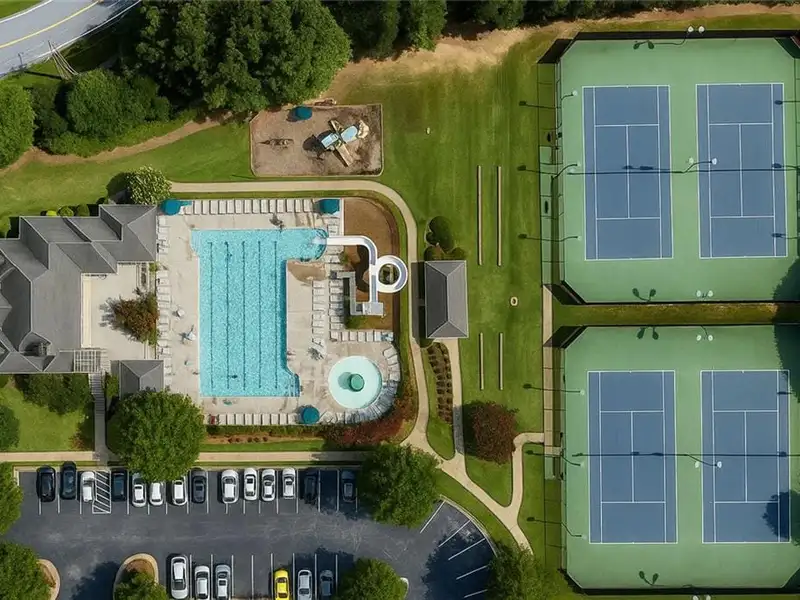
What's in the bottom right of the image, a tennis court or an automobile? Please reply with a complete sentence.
It is a tennis court that can be seen in the bottom right of the image.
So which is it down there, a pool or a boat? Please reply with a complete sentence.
It is a pool that can be seen here.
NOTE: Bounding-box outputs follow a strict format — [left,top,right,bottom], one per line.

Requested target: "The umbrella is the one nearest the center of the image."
[320,196,340,216]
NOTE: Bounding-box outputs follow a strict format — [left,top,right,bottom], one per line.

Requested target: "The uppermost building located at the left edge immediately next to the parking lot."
[0,204,158,373]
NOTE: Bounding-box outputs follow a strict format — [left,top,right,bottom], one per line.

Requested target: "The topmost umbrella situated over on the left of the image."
[295,105,312,122]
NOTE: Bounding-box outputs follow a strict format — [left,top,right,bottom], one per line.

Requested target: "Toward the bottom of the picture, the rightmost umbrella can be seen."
[302,405,319,423]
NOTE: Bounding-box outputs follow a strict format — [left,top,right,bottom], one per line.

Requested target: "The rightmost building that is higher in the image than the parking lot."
[424,260,469,339]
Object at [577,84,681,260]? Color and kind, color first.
blue tennis court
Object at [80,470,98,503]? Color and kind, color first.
white car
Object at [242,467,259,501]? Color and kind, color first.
white car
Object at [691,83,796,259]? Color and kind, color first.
blue tennis court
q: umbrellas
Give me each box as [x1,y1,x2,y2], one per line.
[295,105,312,122]
[320,196,340,216]
[163,198,182,216]
[302,405,319,423]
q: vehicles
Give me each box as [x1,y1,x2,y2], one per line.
[220,469,240,504]
[280,467,296,499]
[214,563,232,600]
[273,567,291,600]
[36,466,58,504]
[148,479,165,506]
[297,568,313,600]
[320,568,335,600]
[171,471,188,505]
[80,470,98,503]
[191,468,208,505]
[260,468,277,502]
[302,469,319,505]
[130,473,148,507]
[59,461,79,500]
[242,467,259,501]
[110,468,129,503]
[170,554,190,598]
[194,565,211,600]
